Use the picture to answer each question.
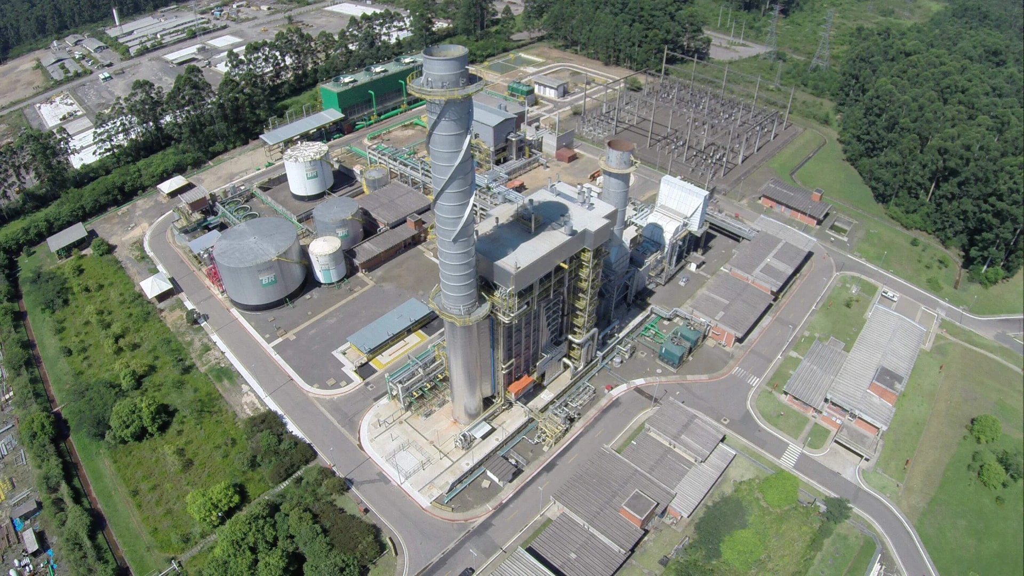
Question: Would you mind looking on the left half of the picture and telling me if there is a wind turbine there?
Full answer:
No, I see no wind turbine on the left half of the picture.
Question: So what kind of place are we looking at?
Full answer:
The area seen from above is an industrial area.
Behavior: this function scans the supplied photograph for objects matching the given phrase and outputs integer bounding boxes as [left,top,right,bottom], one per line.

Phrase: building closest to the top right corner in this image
[760,178,832,226]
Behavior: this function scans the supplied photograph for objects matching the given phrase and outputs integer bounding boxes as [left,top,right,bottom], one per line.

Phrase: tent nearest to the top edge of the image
[157,175,193,200]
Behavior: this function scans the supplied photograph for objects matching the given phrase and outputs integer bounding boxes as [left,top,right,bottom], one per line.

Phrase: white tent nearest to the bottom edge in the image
[140,272,176,306]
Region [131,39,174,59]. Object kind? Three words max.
shed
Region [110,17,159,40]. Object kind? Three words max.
shed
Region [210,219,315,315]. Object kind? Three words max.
storage tank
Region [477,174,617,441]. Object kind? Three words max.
building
